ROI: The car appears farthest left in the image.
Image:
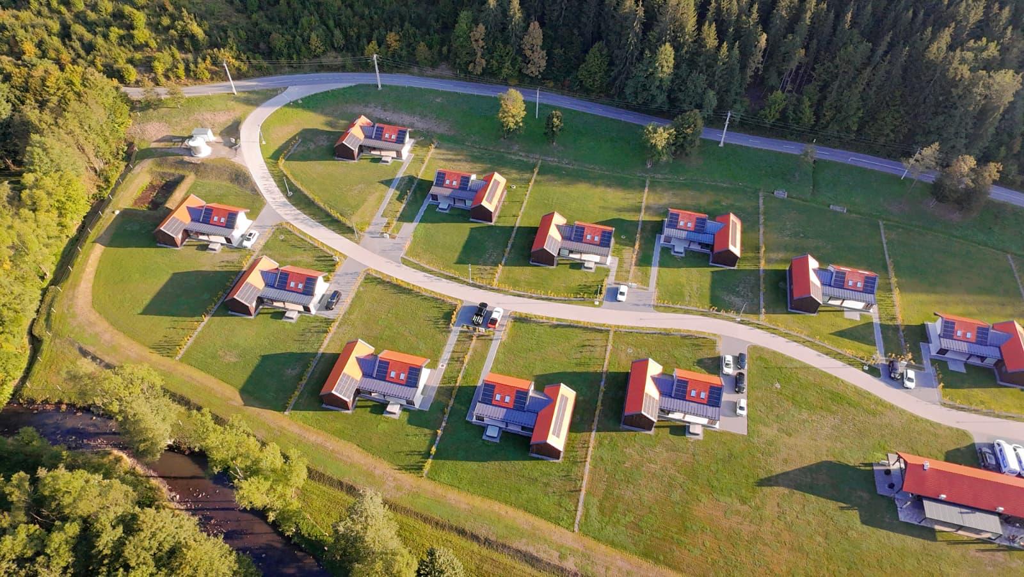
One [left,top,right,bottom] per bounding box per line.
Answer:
[244,230,258,246]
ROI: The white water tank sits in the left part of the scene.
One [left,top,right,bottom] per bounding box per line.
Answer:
[187,134,214,159]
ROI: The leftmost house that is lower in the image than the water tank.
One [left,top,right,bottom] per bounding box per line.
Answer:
[153,195,255,251]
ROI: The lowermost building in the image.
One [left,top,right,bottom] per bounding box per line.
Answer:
[873,452,1024,550]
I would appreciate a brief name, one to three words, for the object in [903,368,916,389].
vehicle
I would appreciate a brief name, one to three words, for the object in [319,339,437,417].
house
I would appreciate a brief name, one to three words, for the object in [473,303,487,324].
vehicle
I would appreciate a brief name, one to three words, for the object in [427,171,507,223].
house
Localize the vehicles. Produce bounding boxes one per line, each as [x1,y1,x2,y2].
[735,396,747,418]
[977,446,996,470]
[734,372,747,394]
[325,291,342,309]
[991,441,1020,474]
[489,310,502,327]
[244,230,258,246]
[722,354,734,375]
[473,303,487,324]
[887,356,903,379]
[618,284,628,301]
[736,352,748,371]
[903,368,916,389]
